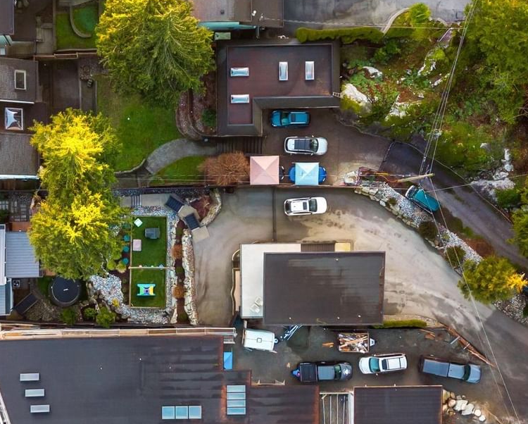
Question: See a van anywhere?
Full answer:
Yes, looking at the shot, I can spot a van.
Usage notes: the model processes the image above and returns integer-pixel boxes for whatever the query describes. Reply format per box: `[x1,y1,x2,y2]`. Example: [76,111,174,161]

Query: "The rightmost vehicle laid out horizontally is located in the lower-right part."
[421,358,486,384]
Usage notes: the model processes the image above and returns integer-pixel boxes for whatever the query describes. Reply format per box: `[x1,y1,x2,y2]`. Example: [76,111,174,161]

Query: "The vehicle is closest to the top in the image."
[271,109,315,128]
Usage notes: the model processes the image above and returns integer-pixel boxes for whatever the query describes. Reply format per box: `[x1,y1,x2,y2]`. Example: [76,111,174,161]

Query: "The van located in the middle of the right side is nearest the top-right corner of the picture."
[403,180,450,219]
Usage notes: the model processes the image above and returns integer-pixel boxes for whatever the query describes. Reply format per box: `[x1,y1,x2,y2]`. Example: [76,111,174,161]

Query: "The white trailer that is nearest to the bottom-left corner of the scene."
[242,327,284,355]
